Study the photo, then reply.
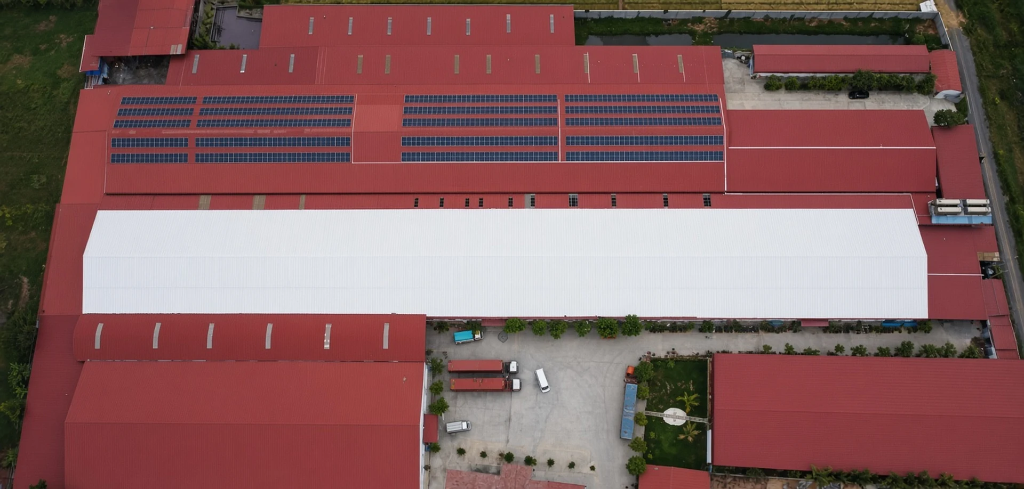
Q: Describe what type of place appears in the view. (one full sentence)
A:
It's an industrial area.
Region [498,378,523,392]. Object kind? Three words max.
vehicle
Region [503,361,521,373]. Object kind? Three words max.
vehicle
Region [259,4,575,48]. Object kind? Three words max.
building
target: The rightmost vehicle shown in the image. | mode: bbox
[986,261,1003,274]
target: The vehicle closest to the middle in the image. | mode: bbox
[453,331,485,343]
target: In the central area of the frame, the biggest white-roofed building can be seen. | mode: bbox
[82,208,929,320]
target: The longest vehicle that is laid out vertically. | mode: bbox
[619,365,636,439]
